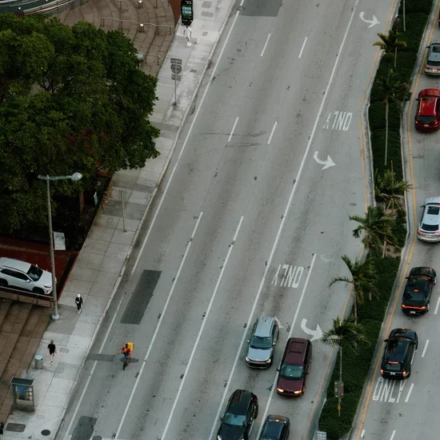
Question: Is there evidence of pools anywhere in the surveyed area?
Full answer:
No, no pool is visible in the view.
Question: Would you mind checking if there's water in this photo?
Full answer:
No, the picture contains no water.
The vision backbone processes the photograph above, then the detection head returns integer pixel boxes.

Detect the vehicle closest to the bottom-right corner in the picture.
[381,321,422,375]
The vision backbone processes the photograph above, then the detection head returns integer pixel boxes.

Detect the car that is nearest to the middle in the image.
[245,307,285,365]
